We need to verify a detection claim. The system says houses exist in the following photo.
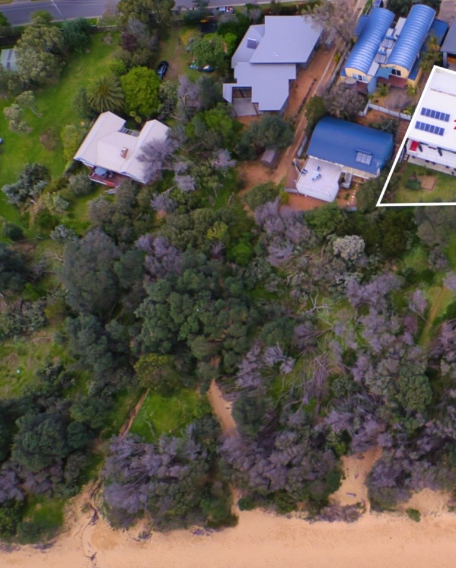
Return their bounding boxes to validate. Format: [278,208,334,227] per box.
[341,0,449,103]
[222,16,322,116]
[286,120,393,203]
[406,67,456,176]
[74,111,172,193]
